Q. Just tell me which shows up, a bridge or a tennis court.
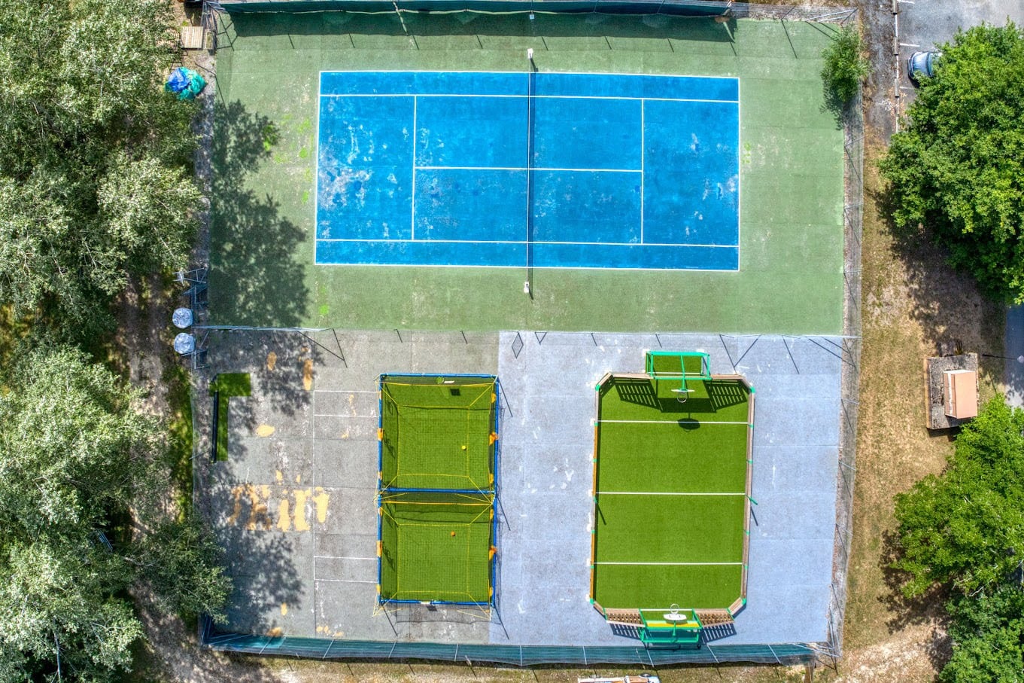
tennis court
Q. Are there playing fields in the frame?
Yes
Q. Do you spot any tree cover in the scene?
Yes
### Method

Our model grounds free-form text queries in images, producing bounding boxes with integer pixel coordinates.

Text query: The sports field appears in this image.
[586,348,760,645]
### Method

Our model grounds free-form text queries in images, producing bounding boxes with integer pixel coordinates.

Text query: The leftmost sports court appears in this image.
[205,329,499,646]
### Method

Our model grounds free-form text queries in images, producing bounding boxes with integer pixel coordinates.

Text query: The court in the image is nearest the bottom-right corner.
[493,332,843,647]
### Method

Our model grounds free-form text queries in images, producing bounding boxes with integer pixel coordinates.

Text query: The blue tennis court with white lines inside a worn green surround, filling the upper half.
[208,6,844,336]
